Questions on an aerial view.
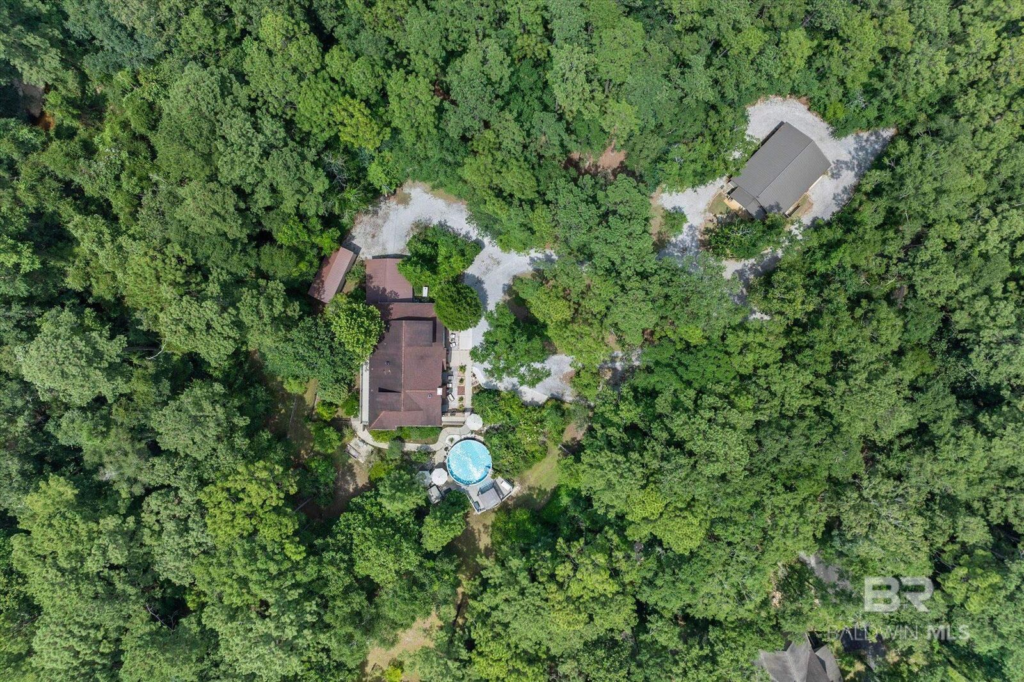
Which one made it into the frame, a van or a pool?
pool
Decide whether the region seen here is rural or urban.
rural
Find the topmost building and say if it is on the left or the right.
right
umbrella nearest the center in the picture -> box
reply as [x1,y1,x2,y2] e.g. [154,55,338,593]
[466,413,483,430]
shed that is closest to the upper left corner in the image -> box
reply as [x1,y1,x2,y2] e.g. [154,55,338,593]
[308,245,354,301]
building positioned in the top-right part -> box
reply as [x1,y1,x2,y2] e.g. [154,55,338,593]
[723,122,831,220]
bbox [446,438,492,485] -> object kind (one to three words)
swimming pool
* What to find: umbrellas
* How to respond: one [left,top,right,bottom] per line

[418,471,431,486]
[431,468,447,485]
[466,413,483,430]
